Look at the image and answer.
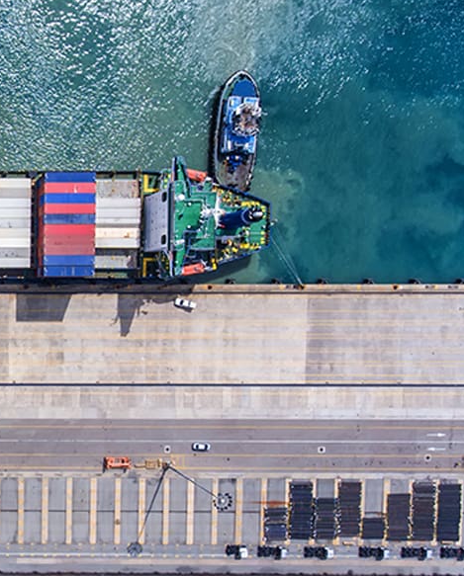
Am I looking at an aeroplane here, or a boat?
boat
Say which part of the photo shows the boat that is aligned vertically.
top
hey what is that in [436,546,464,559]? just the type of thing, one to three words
vehicle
